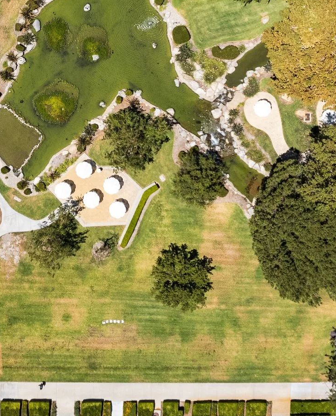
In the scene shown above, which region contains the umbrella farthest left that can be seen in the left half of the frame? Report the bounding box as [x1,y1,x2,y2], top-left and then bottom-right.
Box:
[54,182,73,200]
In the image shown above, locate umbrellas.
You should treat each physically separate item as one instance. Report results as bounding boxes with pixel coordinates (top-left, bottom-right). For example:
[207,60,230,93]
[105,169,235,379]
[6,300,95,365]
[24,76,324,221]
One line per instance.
[81,191,100,209]
[54,182,73,200]
[108,200,126,219]
[101,176,121,195]
[319,107,336,125]
[74,161,92,179]
[253,99,272,117]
